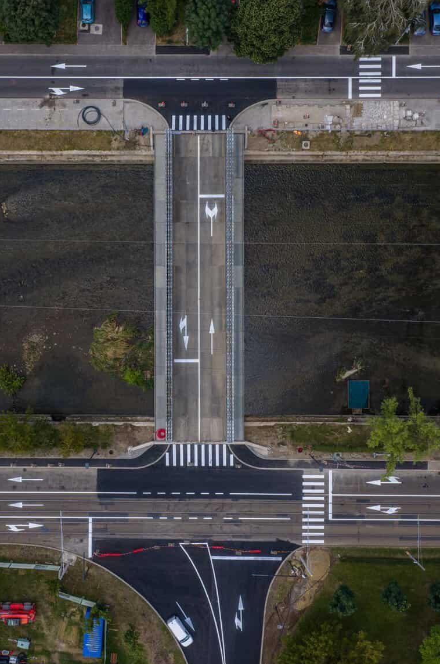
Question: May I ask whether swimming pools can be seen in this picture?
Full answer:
No, I find no swimming pool anywhere in the image.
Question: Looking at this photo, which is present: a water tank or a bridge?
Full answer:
This aerial view contains a bridge.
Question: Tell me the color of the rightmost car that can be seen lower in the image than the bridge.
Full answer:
From above, the rightmost car that can be seen lower in the image than the bridge appears white.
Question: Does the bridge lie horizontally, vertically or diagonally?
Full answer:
The bridge is oriented vertically.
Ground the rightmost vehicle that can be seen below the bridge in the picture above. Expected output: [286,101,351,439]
[168,614,192,648]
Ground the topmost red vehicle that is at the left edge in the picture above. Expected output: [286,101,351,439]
[0,604,34,628]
